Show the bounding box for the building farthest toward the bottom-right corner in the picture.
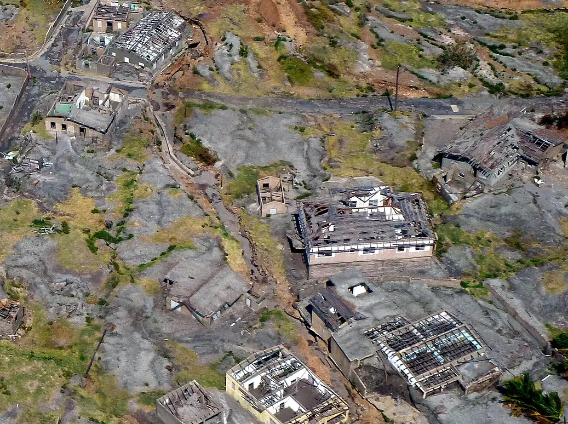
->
[365,310,499,412]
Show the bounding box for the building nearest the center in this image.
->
[255,176,292,222]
